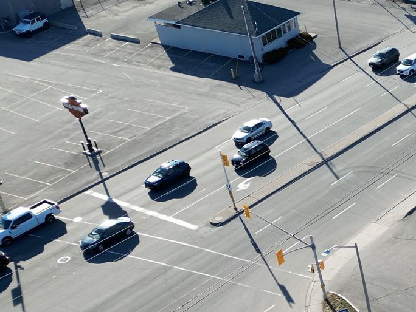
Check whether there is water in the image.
No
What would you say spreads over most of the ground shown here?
paved ground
